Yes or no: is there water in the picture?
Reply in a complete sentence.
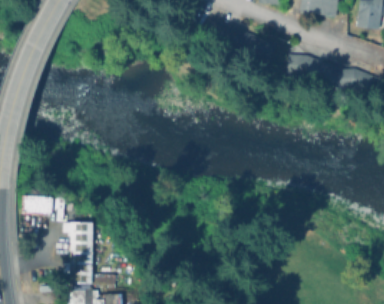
Yes, some water is visible.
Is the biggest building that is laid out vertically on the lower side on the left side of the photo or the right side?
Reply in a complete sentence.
The biggest building that is laid out vertically on the lower side is on the left side of the image.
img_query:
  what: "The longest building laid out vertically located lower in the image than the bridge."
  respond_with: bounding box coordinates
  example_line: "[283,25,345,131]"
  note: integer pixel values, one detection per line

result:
[63,223,94,286]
